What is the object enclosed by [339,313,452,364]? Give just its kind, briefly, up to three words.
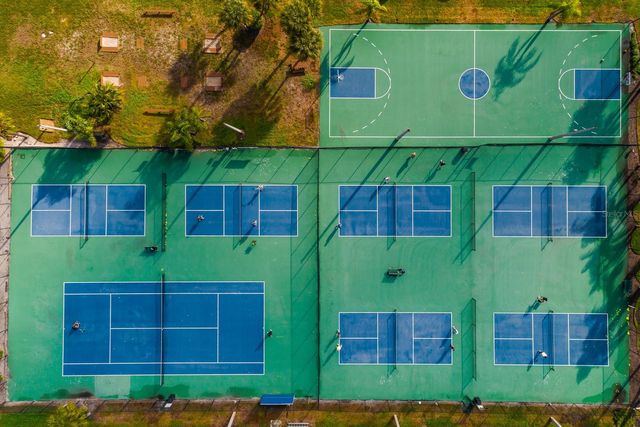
sports court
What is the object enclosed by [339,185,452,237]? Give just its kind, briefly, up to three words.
sports court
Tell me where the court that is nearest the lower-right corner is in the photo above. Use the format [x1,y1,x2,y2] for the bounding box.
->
[494,313,609,366]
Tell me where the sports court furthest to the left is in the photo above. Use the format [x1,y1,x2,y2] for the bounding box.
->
[31,184,145,236]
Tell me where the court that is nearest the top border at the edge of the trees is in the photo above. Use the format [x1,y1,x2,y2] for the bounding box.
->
[329,29,621,137]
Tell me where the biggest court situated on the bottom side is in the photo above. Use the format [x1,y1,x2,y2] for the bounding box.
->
[63,281,265,376]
